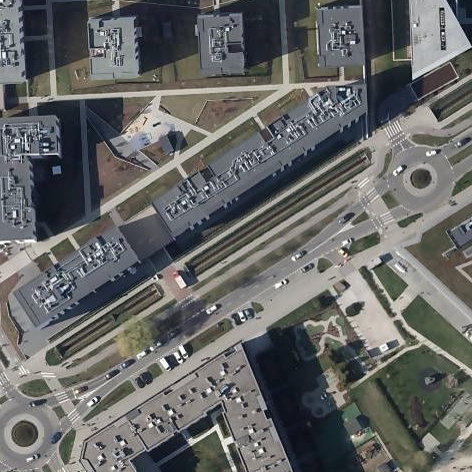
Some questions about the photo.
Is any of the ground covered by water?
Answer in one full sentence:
No, there is no water in the image.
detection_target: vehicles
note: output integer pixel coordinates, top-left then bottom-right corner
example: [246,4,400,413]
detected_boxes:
[293,251,305,260]
[276,279,288,288]
[300,262,312,272]
[160,358,170,371]
[141,373,151,385]
[206,305,218,314]
[178,344,188,357]
[342,213,353,223]
[135,377,144,389]
[243,307,253,319]
[88,397,98,406]
[150,342,160,350]
[341,238,351,246]
[427,149,437,155]
[340,248,350,258]
[138,350,148,358]
[394,164,405,175]
[174,271,186,286]
[458,136,470,145]
[232,315,239,325]
[76,386,87,393]
[28,454,38,461]
[107,370,119,379]
[237,311,245,322]
[52,433,61,443]
[122,360,134,369]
